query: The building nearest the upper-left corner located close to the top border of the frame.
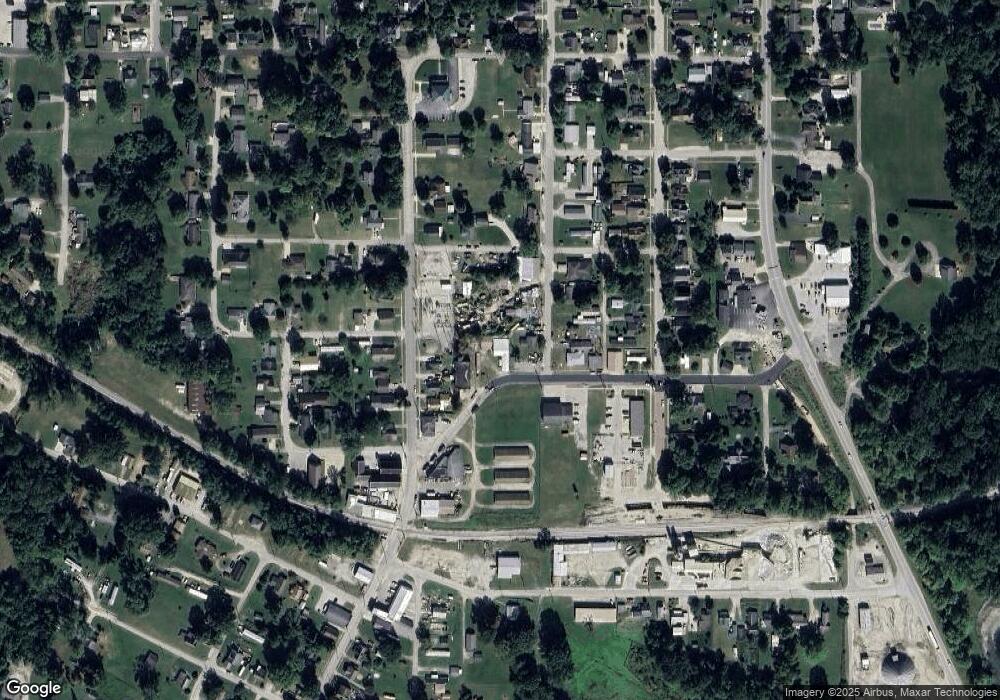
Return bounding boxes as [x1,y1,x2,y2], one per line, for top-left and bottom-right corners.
[13,17,27,49]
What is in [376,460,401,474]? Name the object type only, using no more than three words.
building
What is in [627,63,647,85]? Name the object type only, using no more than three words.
house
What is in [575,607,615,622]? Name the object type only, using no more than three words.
shed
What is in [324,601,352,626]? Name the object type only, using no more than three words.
barn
